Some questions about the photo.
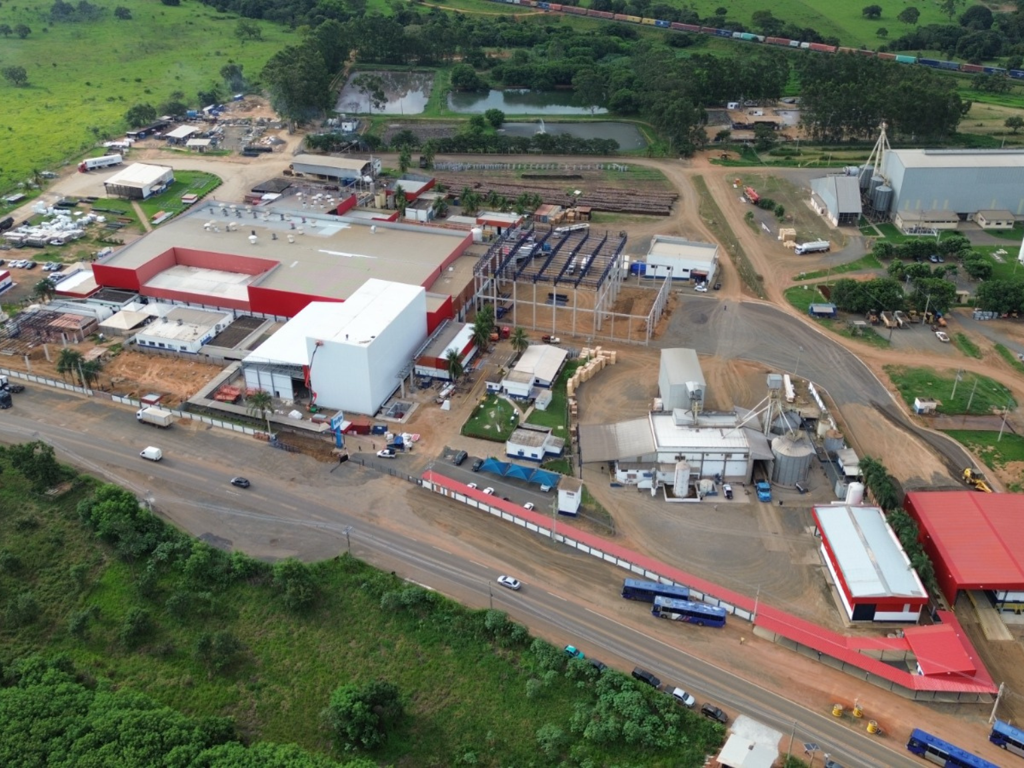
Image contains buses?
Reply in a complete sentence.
Yes, you can see a bus in this photo.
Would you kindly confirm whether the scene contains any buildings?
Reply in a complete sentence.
Yes, the photo shows a building.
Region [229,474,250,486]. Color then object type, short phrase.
gray vehicle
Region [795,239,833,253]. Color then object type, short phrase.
white vehicle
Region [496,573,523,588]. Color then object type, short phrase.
white car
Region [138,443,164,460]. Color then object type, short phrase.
white vehicle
